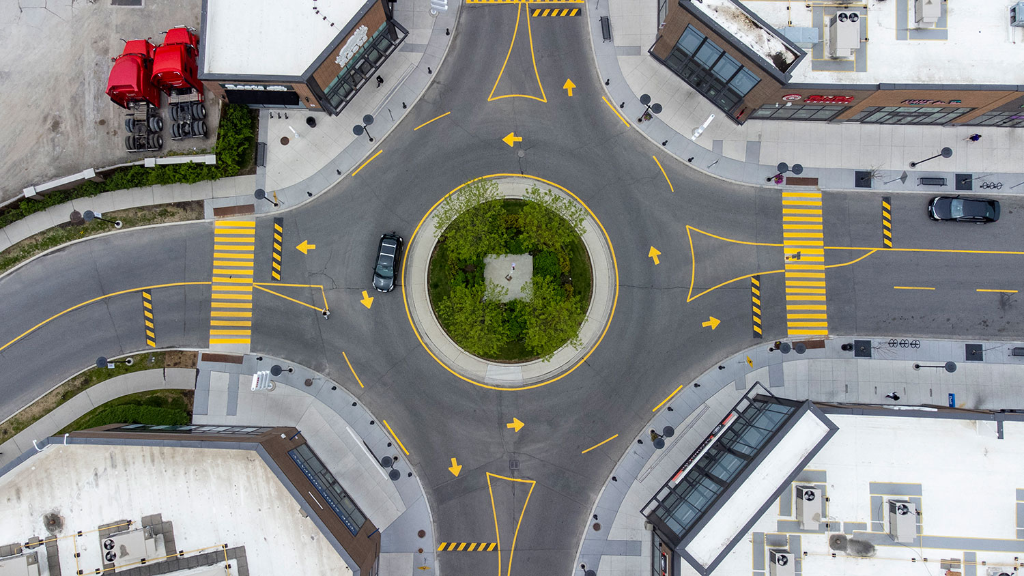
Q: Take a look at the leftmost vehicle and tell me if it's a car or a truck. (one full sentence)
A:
What you see as the leftmost vehicle is a truck.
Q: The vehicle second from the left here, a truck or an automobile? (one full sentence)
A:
It turns out the vehicle second from the left is a truck.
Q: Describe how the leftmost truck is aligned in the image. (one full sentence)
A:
What the image shows is the leftmost truck lying from top to bottom.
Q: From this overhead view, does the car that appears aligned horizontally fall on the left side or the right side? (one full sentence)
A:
You can find the car that appears aligned horizontally on the right side of the picture.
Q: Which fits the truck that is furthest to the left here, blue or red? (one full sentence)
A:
From above, the truck that is furthest to the left appears red.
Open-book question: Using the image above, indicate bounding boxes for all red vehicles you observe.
[107,42,162,151]
[154,30,205,138]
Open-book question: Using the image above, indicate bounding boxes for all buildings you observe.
[648,0,1024,127]
[199,0,409,113]
[637,376,1024,576]
[0,424,381,576]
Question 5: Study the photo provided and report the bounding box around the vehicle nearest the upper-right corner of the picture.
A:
[930,193,1002,224]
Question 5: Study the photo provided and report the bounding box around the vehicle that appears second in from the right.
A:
[369,230,405,294]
